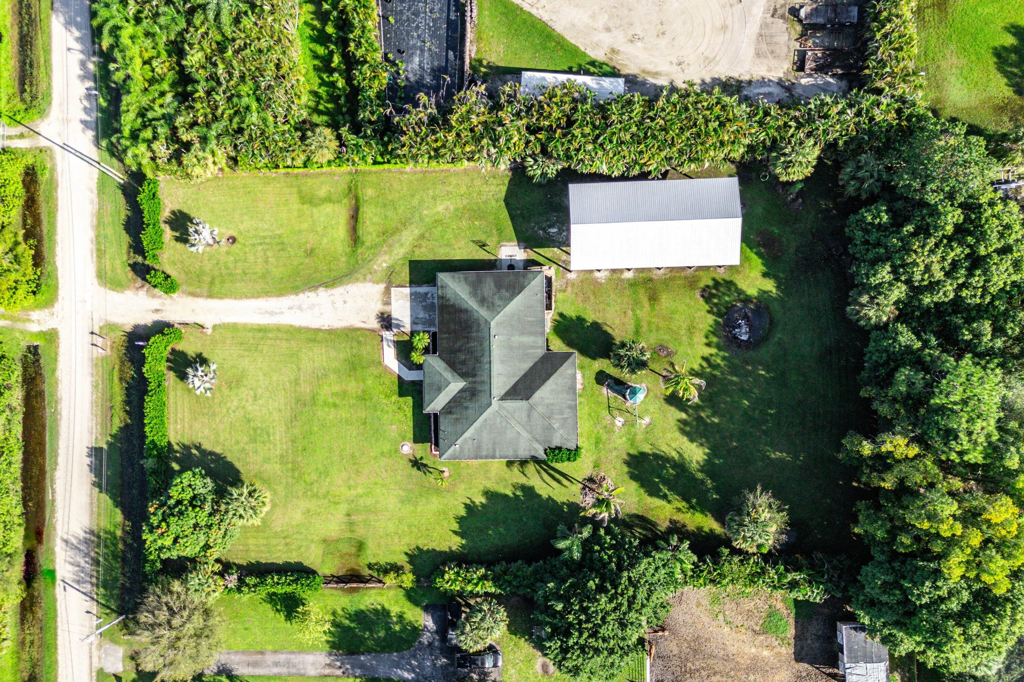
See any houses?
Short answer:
Yes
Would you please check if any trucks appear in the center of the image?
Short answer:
No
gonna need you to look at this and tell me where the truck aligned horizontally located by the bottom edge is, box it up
[452,651,506,676]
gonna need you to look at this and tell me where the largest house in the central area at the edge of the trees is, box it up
[422,270,579,461]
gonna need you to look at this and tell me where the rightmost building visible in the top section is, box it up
[567,177,742,277]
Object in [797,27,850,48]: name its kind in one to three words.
trailer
